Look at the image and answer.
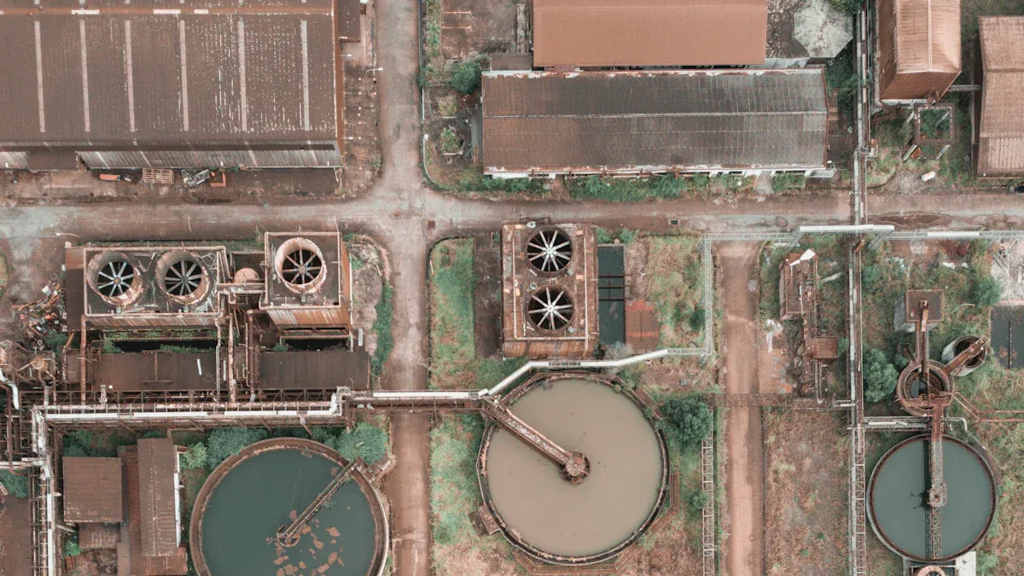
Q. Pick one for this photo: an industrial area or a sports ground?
industrial area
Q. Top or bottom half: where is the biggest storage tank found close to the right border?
bottom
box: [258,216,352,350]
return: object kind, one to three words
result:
cooling tower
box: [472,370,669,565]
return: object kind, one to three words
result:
storage tank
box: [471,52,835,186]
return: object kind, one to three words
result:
building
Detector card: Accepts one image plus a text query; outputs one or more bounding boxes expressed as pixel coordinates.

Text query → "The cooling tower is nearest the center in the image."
[501,218,600,358]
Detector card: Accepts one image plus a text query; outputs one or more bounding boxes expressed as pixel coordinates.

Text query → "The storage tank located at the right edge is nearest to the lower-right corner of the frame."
[865,425,995,560]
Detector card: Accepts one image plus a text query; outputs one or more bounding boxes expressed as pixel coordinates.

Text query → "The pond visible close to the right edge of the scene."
[988,298,1024,370]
